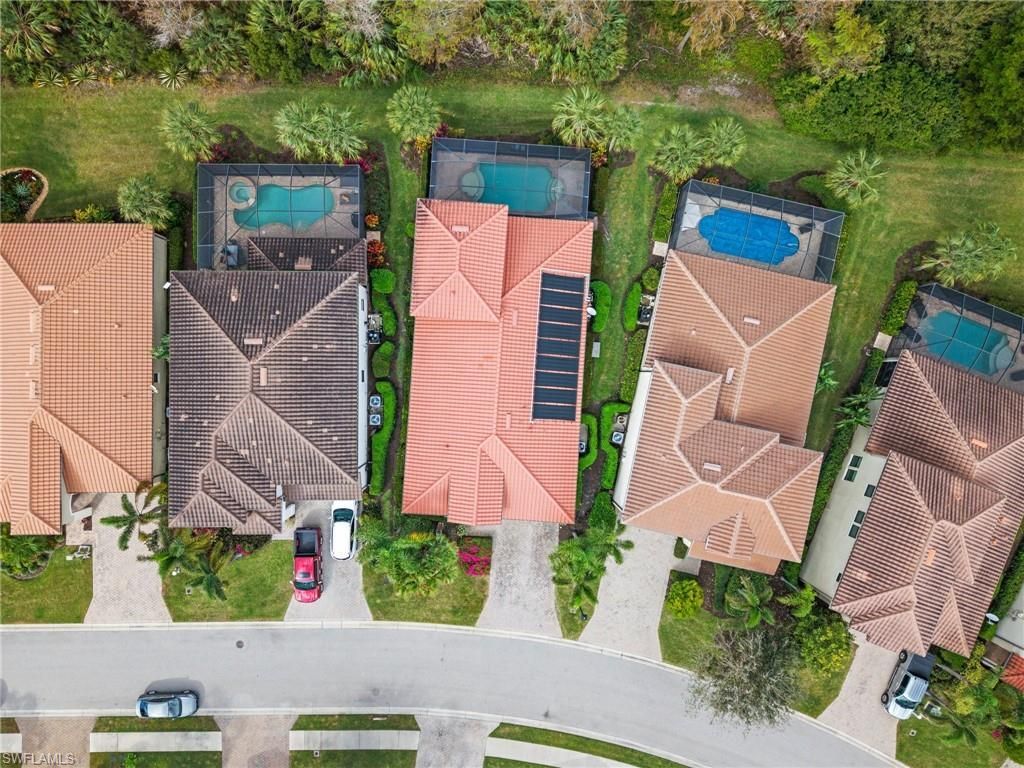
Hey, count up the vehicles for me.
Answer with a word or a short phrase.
four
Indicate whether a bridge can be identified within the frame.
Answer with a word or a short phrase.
No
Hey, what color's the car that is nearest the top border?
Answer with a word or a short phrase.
white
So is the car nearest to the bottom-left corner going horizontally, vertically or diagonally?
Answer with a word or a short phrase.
horizontally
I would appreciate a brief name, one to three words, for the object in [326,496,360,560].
car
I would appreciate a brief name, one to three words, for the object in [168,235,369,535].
house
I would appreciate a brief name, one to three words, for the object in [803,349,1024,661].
house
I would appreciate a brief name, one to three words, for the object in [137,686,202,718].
car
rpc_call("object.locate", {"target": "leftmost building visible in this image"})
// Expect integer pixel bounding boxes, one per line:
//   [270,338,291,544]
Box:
[0,222,167,537]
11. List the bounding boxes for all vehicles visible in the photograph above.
[877,645,946,721]
[137,686,202,718]
[326,496,360,560]
[290,526,323,603]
